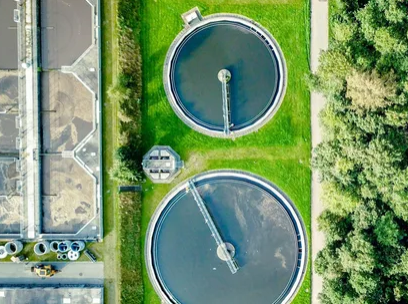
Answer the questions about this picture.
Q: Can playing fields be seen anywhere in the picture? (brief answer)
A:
No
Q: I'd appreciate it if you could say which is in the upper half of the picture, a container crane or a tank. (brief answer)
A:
tank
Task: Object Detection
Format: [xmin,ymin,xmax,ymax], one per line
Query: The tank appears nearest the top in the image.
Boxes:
[164,14,289,138]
